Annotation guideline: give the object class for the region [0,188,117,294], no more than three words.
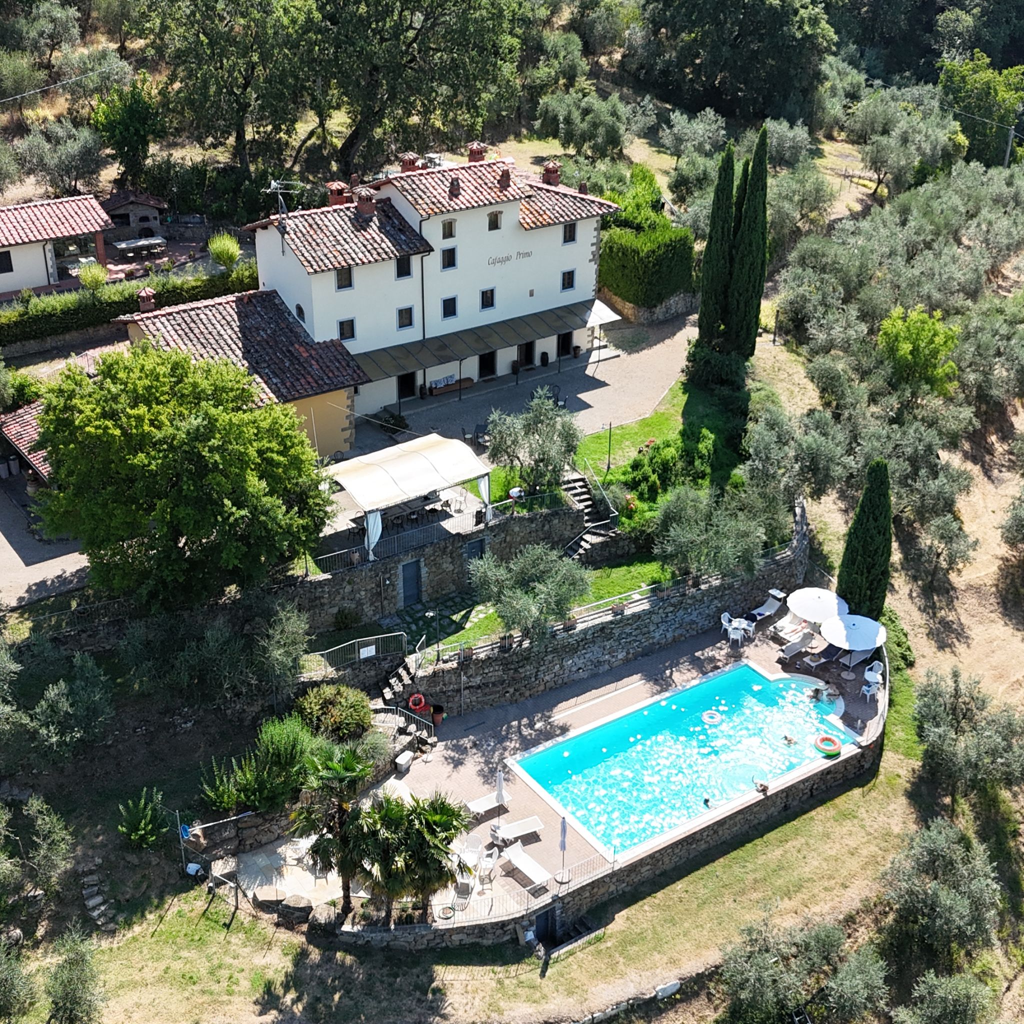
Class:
building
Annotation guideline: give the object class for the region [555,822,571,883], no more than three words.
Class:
umbrella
